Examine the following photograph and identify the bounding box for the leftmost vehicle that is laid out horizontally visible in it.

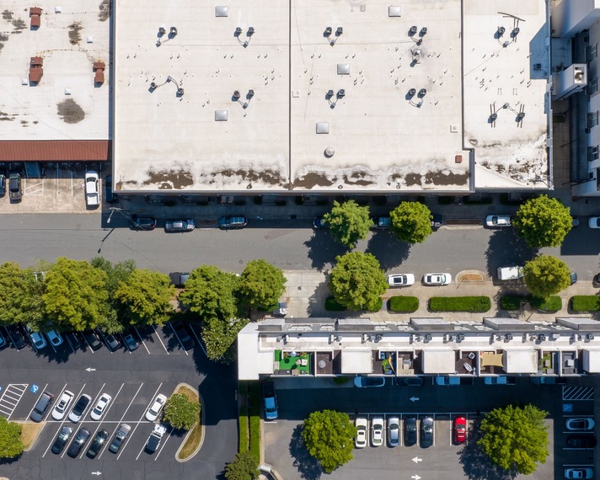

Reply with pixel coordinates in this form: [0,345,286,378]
[129,216,159,231]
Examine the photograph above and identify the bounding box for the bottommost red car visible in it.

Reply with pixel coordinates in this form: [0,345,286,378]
[454,416,467,444]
